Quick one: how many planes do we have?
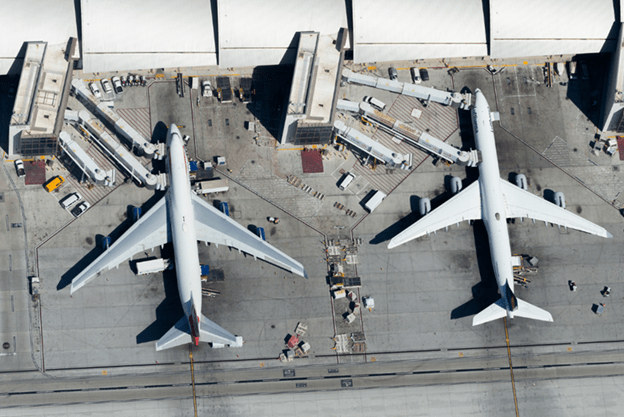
2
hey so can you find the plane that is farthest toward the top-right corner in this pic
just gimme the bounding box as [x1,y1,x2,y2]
[392,90,614,325]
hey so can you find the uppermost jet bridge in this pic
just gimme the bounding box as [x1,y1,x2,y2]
[340,68,471,121]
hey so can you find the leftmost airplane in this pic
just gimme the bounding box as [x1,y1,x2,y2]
[69,124,308,351]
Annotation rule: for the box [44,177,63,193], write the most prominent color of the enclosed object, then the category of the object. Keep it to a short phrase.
orange vehicle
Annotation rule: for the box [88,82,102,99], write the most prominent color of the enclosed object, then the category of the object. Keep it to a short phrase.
white car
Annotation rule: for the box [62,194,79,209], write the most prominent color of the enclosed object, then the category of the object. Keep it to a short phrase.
white vehicle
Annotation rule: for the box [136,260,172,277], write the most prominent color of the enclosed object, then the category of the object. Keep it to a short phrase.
white vehicle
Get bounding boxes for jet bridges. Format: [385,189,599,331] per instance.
[63,110,162,203]
[332,119,411,182]
[337,99,476,180]
[340,68,471,121]
[62,133,121,207]
[72,82,160,169]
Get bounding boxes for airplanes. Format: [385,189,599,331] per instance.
[392,90,614,325]
[69,124,308,351]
